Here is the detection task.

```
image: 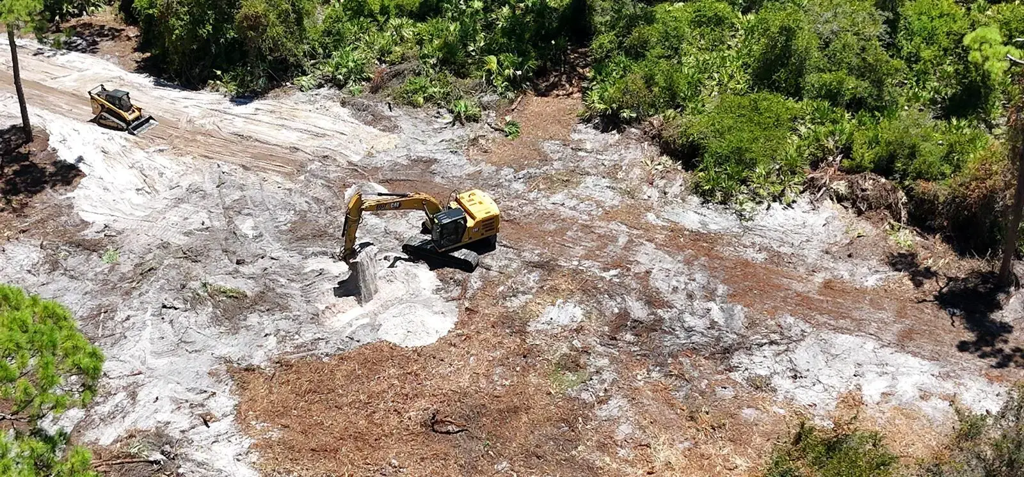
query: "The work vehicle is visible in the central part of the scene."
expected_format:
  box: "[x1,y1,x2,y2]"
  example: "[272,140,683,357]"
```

[342,188,503,276]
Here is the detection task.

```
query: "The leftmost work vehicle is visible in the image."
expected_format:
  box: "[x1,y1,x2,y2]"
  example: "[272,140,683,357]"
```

[87,79,156,135]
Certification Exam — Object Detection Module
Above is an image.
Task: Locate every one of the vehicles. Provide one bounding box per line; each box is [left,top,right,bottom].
[87,79,156,135]
[342,188,503,276]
